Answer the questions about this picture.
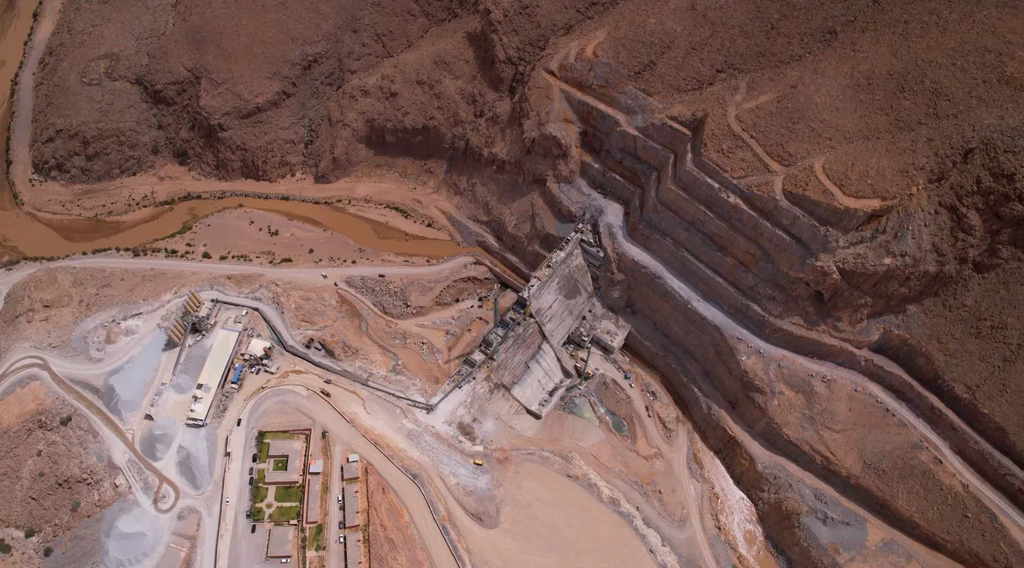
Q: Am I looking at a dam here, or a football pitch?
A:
dam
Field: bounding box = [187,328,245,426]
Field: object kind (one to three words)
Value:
shed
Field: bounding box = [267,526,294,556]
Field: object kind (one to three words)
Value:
house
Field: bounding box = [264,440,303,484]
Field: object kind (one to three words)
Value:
building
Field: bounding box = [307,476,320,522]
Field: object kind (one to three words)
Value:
house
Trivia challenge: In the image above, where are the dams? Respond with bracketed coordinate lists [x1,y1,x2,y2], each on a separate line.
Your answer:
[429,223,605,419]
